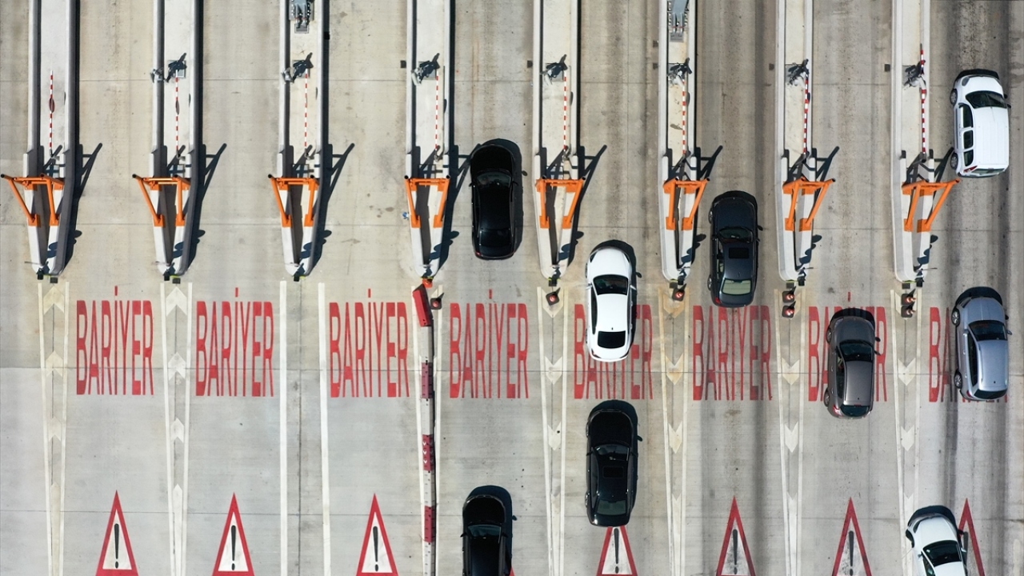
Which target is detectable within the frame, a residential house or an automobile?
automobile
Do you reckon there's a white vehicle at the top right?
Yes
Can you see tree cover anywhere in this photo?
No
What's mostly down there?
paved ground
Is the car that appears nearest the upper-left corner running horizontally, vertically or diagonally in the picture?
vertically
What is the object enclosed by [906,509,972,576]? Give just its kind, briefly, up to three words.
car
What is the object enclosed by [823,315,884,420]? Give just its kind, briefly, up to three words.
car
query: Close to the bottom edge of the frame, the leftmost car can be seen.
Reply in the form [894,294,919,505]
[458,494,513,576]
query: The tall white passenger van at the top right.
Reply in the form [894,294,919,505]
[948,77,1010,178]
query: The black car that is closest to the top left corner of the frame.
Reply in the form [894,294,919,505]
[465,144,519,260]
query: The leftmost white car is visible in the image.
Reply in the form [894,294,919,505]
[583,245,638,363]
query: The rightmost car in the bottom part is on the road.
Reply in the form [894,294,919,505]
[949,295,1011,401]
